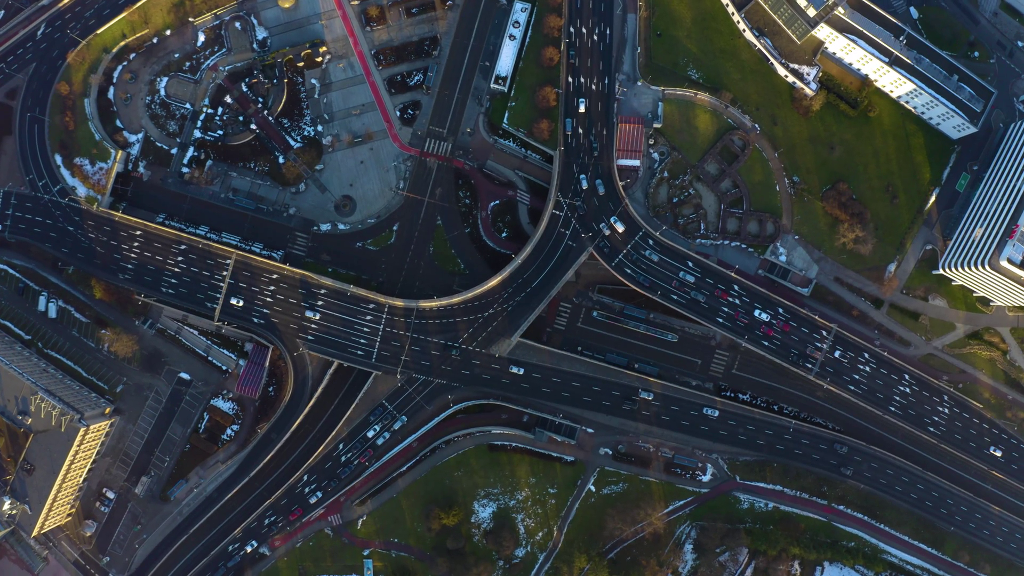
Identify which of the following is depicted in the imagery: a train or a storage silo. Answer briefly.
train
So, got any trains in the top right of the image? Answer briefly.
No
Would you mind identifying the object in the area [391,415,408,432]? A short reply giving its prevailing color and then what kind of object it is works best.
blue vehicle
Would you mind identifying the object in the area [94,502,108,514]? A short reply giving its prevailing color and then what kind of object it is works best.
gray vehicle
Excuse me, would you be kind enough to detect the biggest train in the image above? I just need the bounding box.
[591,311,677,340]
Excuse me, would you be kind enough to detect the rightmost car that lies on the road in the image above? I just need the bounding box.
[989,446,1005,458]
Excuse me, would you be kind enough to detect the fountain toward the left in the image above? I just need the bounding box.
[334,194,356,217]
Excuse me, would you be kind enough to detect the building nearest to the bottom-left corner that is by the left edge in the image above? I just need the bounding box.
[0,527,57,573]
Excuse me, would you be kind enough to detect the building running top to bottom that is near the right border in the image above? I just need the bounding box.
[932,104,1024,306]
